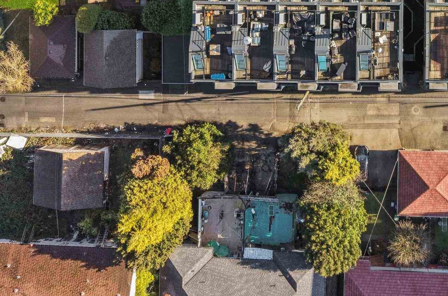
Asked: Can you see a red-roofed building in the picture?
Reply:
Yes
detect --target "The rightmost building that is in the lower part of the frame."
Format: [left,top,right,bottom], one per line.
[397,146,448,218]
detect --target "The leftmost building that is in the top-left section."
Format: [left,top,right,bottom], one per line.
[29,16,84,78]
